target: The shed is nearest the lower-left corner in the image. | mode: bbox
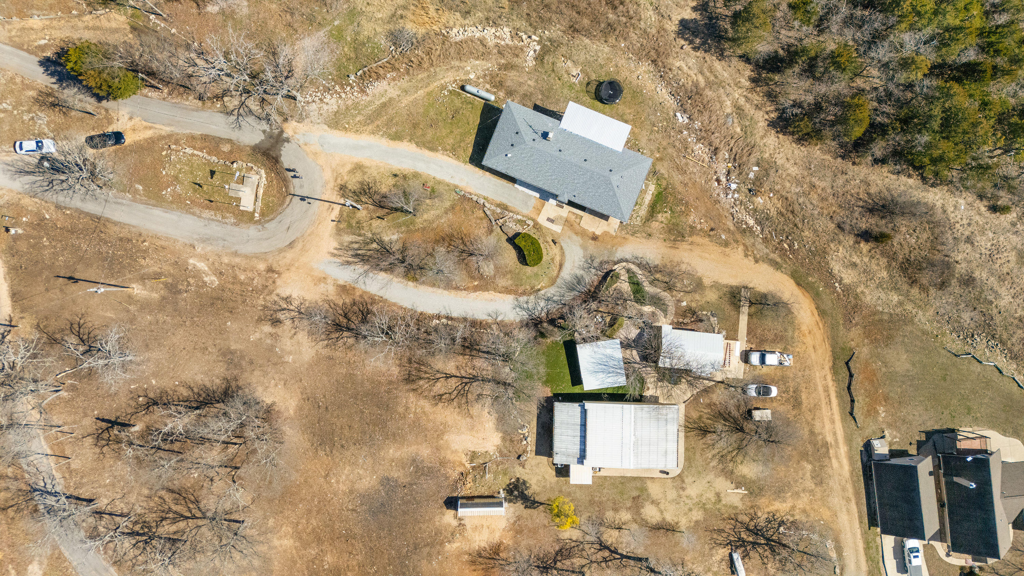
[458,498,505,516]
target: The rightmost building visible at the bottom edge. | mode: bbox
[930,448,1024,560]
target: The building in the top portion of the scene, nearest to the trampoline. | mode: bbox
[481,99,654,224]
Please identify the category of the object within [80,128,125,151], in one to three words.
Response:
car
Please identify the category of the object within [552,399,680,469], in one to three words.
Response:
building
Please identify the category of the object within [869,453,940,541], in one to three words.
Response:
building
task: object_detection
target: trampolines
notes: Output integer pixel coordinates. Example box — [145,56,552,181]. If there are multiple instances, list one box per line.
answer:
[598,73,628,104]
